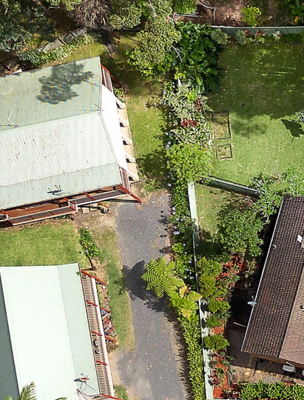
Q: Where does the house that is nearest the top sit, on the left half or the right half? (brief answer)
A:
left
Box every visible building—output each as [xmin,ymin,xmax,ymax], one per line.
[240,197,304,365]
[0,262,128,400]
[0,55,146,236]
